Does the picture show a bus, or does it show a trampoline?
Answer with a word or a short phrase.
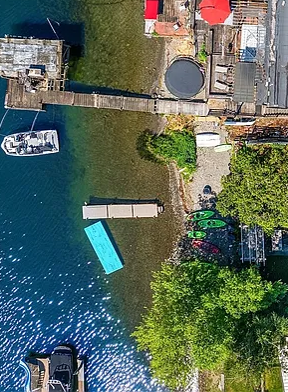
trampoline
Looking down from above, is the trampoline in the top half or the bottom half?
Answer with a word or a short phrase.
top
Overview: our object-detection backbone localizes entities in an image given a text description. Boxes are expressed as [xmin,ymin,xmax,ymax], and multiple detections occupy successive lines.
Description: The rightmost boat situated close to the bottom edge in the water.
[50,341,76,392]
